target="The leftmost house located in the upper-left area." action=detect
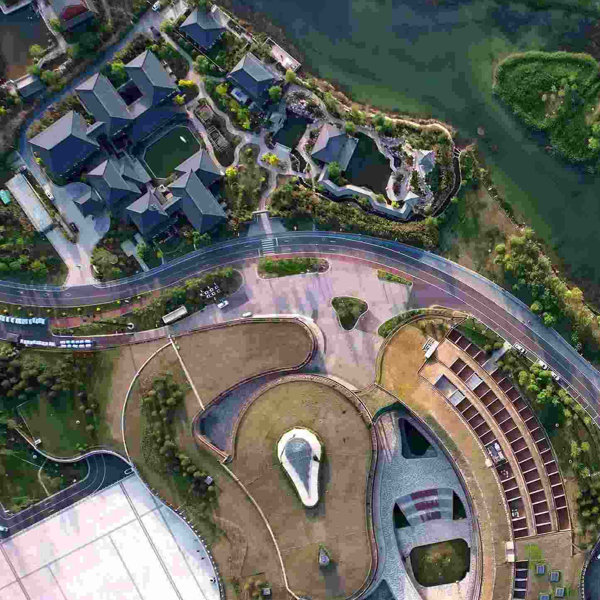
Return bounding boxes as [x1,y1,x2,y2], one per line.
[16,72,50,98]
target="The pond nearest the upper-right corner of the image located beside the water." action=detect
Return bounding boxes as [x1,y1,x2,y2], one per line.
[344,134,391,194]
